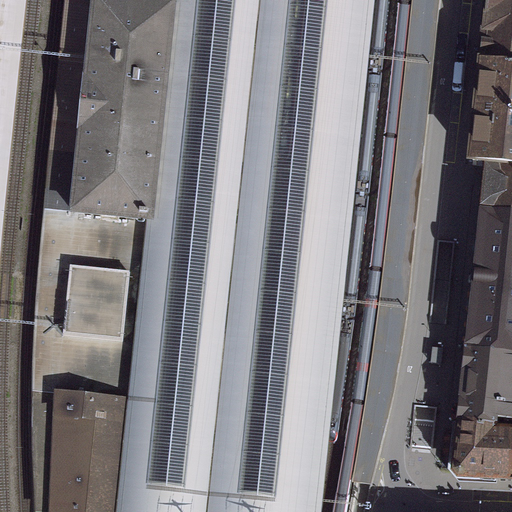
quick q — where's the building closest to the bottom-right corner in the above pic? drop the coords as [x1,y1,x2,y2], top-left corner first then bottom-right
[448,417,512,484]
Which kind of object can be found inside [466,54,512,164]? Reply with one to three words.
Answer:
building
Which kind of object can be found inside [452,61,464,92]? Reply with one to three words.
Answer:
vehicle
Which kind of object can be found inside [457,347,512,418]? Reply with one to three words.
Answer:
building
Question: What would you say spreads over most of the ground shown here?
buildings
